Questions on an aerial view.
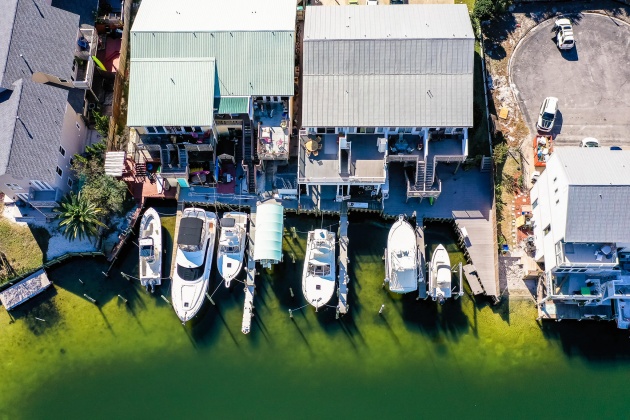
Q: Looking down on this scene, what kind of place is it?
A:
residential area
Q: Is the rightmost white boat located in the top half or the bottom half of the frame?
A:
bottom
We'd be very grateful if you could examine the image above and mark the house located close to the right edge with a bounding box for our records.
[527,149,630,337]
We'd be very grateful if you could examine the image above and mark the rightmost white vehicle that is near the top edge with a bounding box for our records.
[552,14,578,47]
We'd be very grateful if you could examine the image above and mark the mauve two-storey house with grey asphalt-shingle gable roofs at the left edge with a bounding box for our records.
[0,0,113,231]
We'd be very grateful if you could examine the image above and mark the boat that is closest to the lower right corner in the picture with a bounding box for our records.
[431,248,451,299]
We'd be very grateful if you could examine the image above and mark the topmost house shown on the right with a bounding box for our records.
[303,5,474,197]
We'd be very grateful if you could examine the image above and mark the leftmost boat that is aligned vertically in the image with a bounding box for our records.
[140,212,164,291]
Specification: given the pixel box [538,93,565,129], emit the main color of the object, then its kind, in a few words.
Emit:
white car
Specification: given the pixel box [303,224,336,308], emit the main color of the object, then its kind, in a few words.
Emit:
white boat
